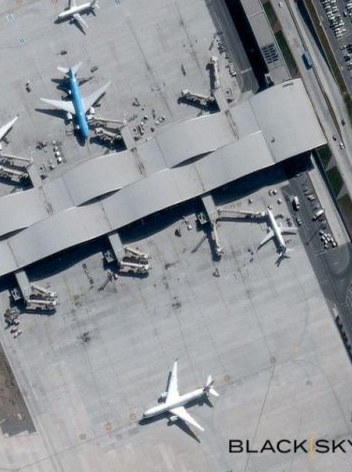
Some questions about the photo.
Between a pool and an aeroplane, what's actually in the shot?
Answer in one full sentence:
Looking from above, you can make out an aeroplane.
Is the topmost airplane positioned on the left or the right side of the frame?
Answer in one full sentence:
The topmost airplane sits on the left side.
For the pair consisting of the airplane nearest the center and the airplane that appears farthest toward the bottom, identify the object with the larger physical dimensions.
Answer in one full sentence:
The larger object is the airplane that appears farthest toward the bottom, with the airplane nearest the center being the smaller of the pair.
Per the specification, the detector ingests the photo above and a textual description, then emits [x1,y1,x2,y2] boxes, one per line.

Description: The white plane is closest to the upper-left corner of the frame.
[58,0,99,27]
